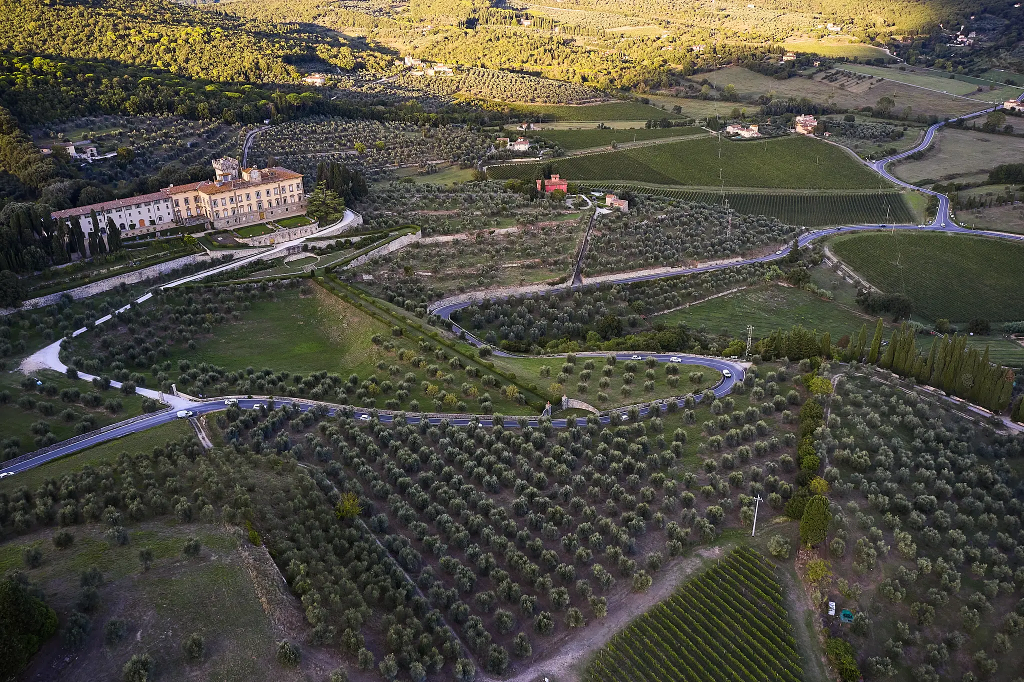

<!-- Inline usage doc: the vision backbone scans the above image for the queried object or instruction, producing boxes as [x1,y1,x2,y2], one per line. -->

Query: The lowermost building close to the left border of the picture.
[45,155,307,248]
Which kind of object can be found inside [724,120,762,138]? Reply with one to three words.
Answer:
house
